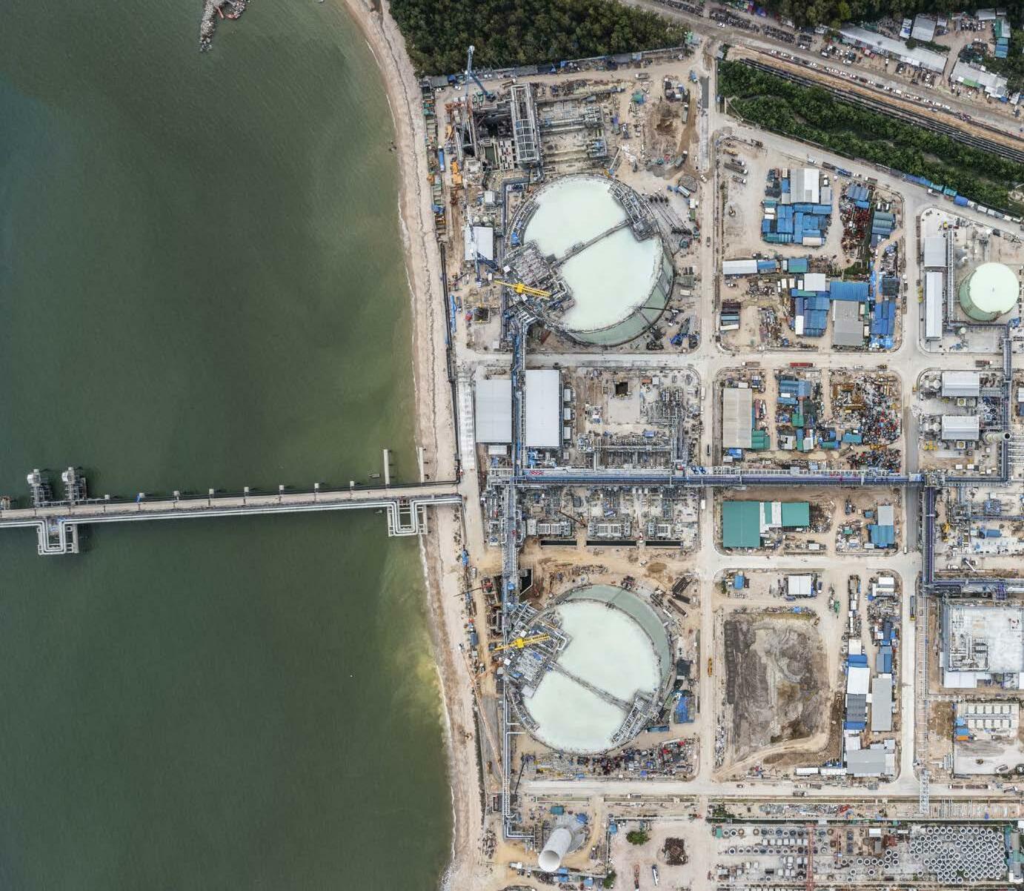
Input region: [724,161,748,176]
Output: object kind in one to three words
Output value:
vehicle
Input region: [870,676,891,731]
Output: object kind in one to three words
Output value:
building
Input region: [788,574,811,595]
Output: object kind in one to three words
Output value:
shed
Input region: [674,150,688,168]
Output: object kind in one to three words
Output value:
vehicle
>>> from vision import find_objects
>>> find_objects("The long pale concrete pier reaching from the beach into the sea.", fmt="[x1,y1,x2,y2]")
[0,484,461,555]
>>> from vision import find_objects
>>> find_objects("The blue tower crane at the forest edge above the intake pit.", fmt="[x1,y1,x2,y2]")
[460,45,496,161]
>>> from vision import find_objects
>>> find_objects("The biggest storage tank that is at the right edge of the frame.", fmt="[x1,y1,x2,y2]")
[960,263,1023,322]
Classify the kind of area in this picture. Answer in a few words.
industrial area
